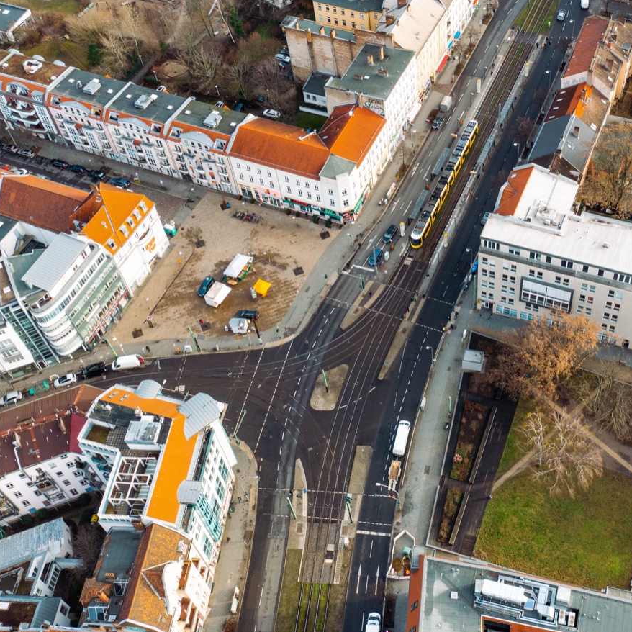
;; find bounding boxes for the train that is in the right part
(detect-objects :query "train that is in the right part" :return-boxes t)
[411,121,476,243]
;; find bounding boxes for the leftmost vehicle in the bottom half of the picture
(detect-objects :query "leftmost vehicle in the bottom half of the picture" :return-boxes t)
[0,387,22,406]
